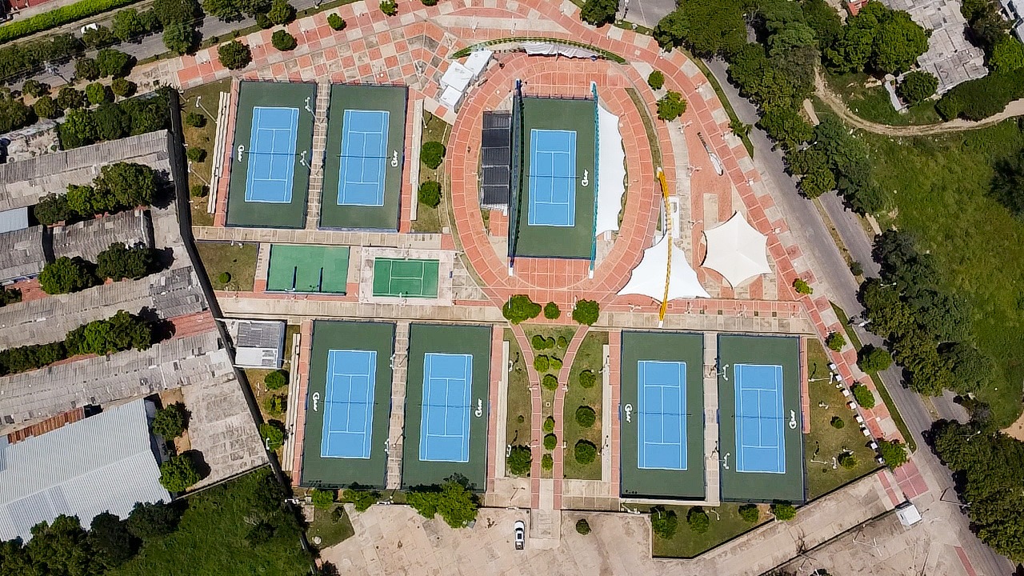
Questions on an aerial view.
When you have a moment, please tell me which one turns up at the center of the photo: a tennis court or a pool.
tennis court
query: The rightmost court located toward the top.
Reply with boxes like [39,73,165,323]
[518,97,593,258]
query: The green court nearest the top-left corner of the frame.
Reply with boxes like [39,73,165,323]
[262,242,350,296]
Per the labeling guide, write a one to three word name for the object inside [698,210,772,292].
tent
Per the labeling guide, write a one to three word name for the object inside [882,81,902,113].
shed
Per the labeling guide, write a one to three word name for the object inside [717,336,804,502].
tennis court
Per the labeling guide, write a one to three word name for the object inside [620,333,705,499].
tennis court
